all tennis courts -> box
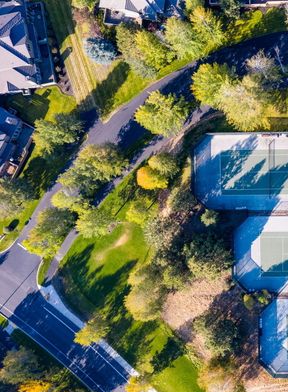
[261,299,288,374]
[195,134,288,210]
[234,216,288,293]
